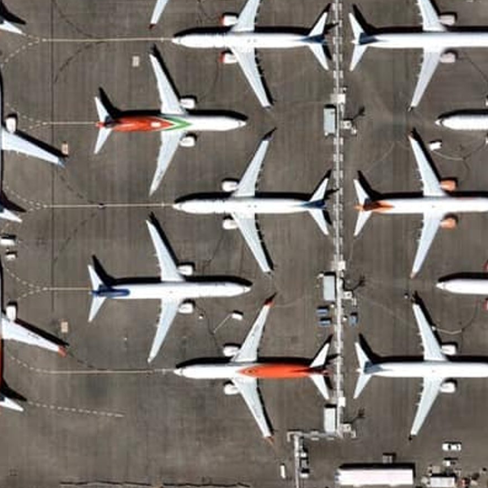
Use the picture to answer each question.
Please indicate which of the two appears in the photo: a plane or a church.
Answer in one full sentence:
There is a plane in the scene.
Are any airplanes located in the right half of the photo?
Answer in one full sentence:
Yes, an airplane appears in the right half of the photo.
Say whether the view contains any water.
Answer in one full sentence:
No, water can't be seen anywhere here.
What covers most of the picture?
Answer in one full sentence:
For the most part, this view shows paved ground.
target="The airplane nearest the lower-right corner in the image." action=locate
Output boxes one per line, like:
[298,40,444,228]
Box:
[354,300,488,442]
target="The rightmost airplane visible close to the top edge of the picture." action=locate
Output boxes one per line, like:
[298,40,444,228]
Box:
[348,0,488,112]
